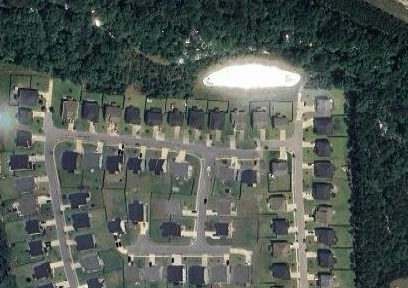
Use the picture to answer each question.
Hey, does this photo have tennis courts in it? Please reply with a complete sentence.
No, this view has no tennis court in it.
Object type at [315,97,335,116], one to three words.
house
